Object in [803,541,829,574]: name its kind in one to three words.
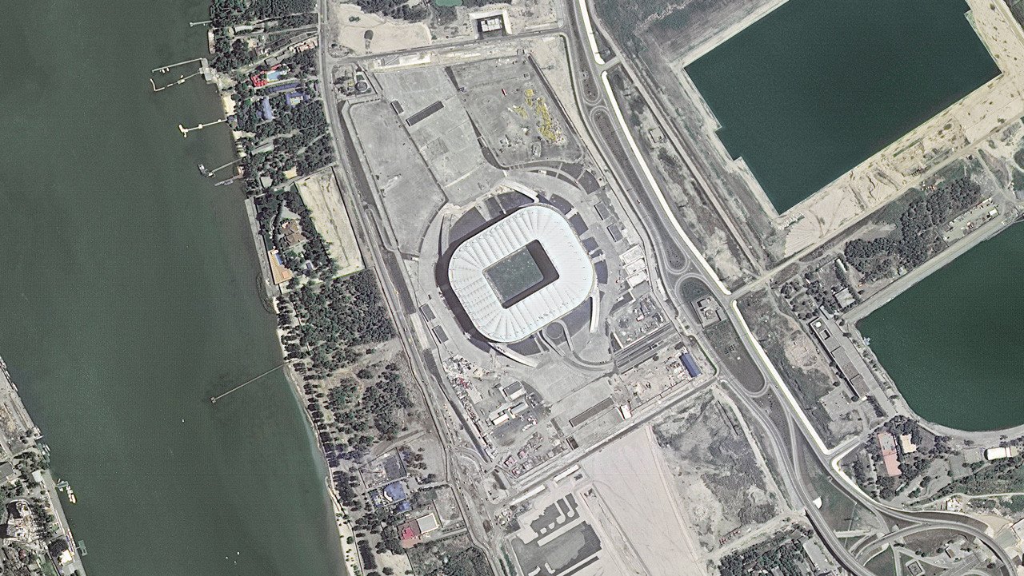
building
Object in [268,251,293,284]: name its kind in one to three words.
house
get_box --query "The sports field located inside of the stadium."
[487,243,556,305]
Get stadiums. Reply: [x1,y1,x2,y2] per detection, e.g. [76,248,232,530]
[445,203,597,345]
